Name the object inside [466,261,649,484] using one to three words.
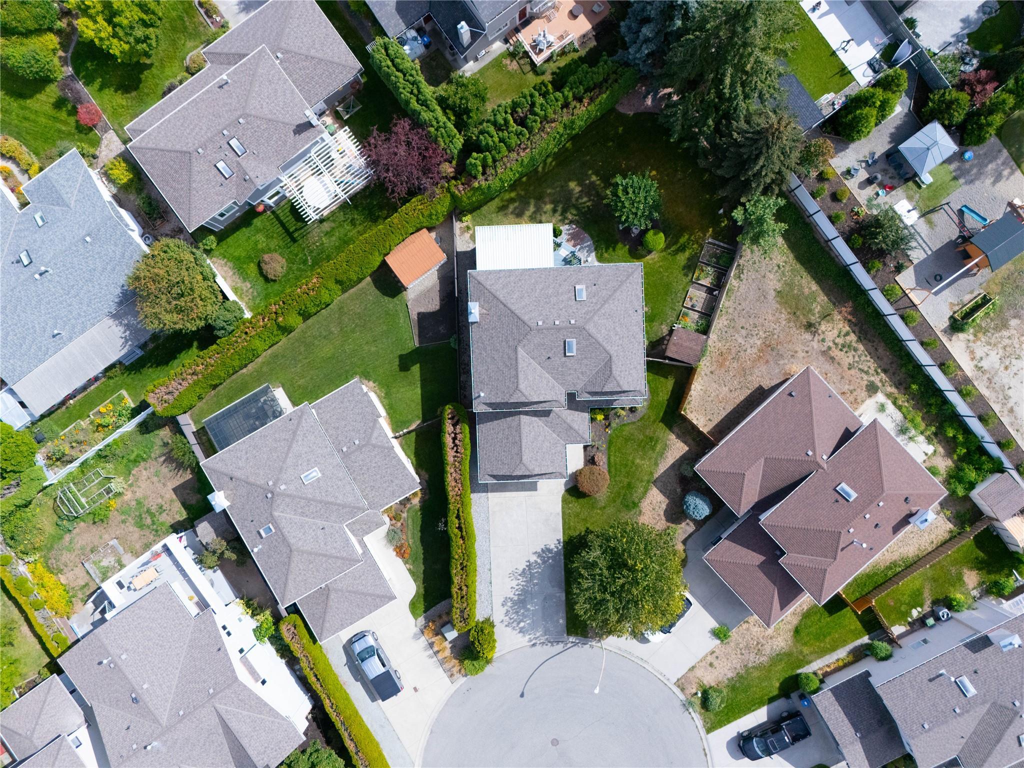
house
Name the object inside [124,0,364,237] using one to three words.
house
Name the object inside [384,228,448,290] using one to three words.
shed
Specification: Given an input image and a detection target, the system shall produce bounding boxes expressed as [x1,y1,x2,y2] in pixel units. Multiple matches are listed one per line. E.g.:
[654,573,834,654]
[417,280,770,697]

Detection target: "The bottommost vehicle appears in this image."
[736,709,814,761]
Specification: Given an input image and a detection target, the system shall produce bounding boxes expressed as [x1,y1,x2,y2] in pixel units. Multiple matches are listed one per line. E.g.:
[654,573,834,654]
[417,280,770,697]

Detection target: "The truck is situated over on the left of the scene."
[351,626,406,703]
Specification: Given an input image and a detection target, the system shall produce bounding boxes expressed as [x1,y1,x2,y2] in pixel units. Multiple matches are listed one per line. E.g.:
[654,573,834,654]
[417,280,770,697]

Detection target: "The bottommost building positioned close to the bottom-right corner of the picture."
[807,589,1024,768]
